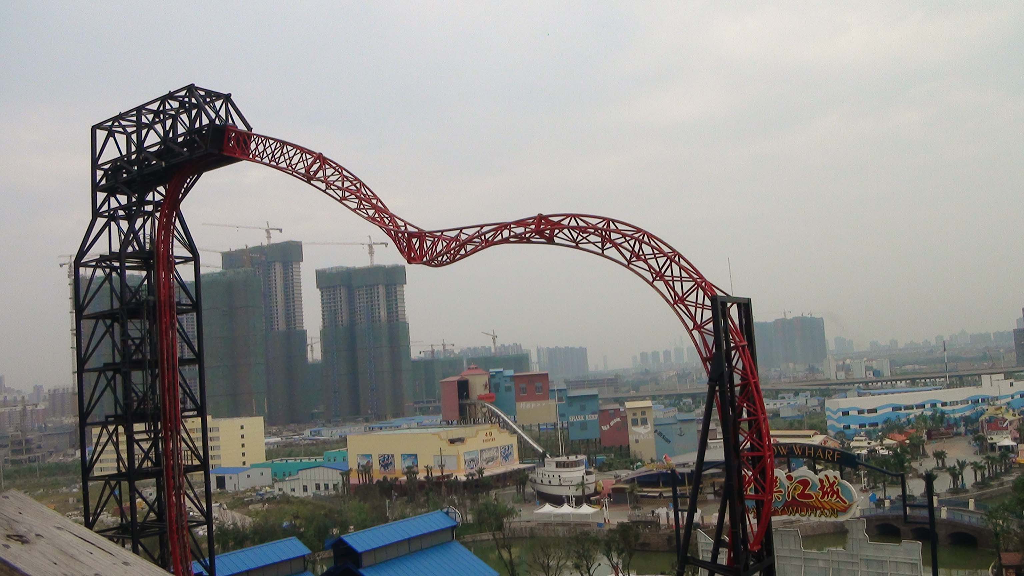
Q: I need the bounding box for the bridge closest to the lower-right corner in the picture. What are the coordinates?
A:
[849,496,1018,551]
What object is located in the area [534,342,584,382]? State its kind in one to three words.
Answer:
building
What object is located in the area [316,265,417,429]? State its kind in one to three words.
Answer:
building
